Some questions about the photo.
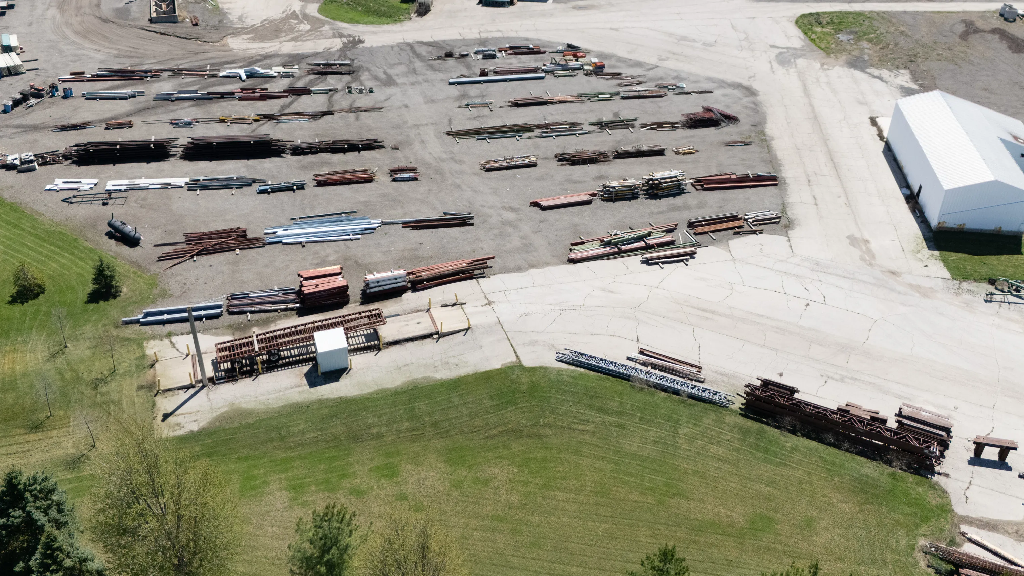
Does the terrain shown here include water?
No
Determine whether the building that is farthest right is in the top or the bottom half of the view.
top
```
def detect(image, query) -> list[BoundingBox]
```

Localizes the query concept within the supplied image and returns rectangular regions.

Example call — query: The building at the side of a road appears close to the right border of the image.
[886,88,1024,234]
